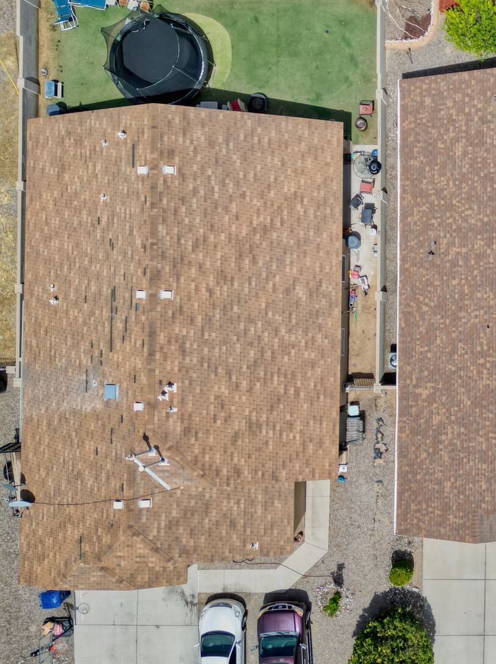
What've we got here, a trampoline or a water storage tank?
trampoline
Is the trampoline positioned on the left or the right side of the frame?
left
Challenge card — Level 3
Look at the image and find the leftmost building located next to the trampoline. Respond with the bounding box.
[17,103,353,594]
